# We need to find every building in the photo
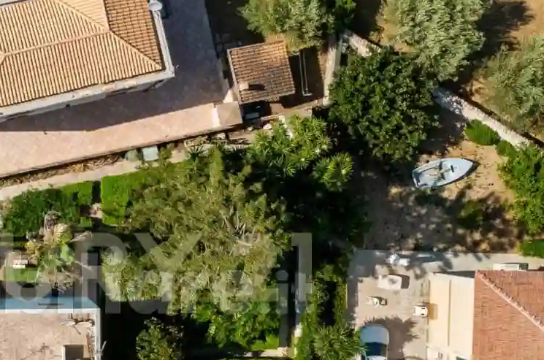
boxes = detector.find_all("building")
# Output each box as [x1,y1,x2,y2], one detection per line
[424,269,544,360]
[220,38,295,104]
[0,0,177,129]
[0,297,102,360]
